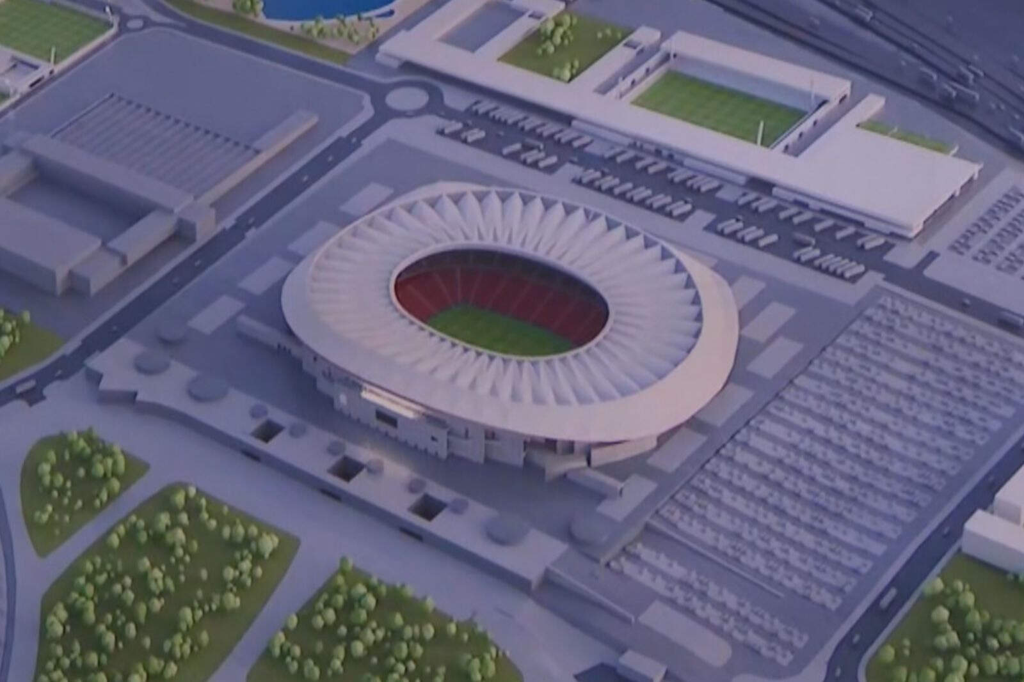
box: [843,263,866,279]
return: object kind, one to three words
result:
vehicle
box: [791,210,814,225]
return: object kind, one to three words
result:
vehicle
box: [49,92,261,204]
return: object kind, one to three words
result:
building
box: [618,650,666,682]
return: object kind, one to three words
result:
building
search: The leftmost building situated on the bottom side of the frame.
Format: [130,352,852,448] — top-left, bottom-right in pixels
[84,337,568,595]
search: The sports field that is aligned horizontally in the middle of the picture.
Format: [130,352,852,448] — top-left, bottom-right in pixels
[426,305,580,356]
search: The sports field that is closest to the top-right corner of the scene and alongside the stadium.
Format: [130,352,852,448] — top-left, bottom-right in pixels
[617,30,851,154]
